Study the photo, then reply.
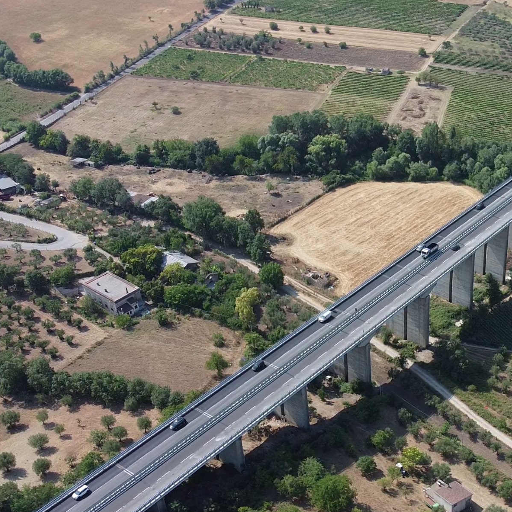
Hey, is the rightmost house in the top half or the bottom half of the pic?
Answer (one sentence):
The rightmost house is in the bottom half of the image.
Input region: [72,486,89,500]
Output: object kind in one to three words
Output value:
car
